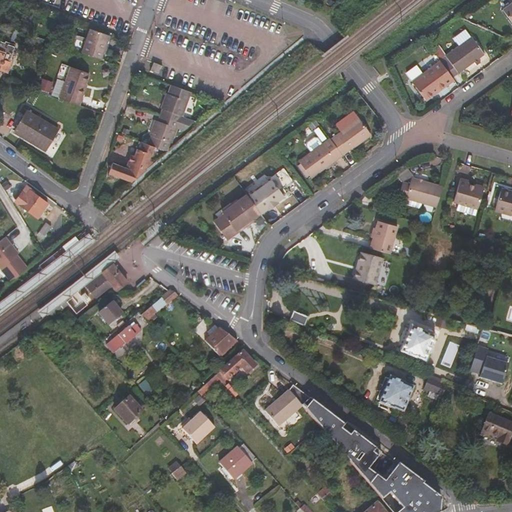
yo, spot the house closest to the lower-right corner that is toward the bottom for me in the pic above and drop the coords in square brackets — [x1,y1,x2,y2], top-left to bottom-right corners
[478,411,512,445]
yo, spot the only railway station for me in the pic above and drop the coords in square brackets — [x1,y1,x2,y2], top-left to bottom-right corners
[0,236,132,348]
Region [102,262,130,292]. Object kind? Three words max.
building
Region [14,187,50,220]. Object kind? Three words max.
house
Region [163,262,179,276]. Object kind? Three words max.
vehicle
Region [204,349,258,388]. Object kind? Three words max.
house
